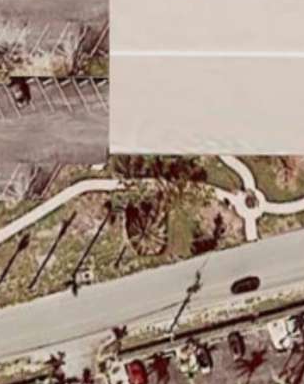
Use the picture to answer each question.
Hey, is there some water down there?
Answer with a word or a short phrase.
No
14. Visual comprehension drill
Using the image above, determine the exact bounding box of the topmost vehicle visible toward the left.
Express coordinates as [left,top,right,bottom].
[10,76,29,104]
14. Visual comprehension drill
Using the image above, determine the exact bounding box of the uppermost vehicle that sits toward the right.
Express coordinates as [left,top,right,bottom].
[230,276,259,293]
